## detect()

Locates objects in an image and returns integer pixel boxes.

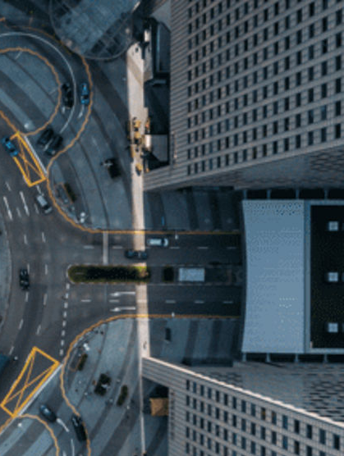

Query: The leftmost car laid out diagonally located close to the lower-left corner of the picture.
[38,403,59,424]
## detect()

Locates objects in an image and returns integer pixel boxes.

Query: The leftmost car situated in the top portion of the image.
[2,134,20,157]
